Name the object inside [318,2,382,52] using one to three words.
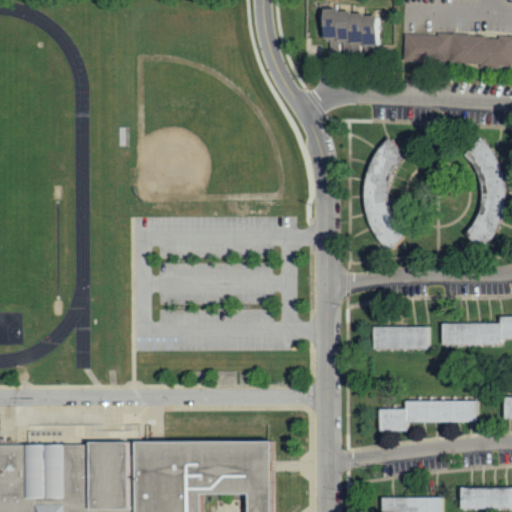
house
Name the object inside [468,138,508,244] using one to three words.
building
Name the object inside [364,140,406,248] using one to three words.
building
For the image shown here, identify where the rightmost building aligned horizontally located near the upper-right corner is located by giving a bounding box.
[405,32,512,69]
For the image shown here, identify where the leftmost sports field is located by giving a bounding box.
[0,16,76,356]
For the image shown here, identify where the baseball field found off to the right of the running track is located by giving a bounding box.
[137,54,284,212]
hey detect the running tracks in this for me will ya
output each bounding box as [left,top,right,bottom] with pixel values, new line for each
[0,4,90,369]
